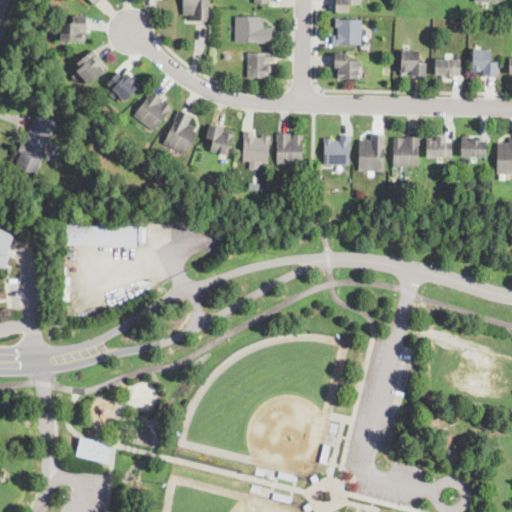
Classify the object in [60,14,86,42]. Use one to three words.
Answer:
house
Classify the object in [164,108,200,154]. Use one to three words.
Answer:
house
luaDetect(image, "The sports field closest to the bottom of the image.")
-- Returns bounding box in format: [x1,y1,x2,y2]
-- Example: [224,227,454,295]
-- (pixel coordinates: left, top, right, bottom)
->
[162,474,304,512]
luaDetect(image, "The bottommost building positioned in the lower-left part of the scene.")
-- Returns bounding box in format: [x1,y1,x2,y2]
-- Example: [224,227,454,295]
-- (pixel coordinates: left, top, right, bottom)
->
[75,438,113,465]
